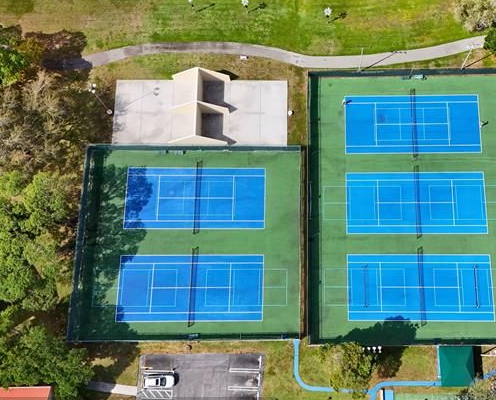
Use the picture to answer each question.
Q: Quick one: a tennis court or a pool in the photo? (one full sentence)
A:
Of the two, only a tennis court appears.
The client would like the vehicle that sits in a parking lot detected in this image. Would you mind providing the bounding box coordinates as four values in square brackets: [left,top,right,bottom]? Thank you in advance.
[143,374,175,389]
